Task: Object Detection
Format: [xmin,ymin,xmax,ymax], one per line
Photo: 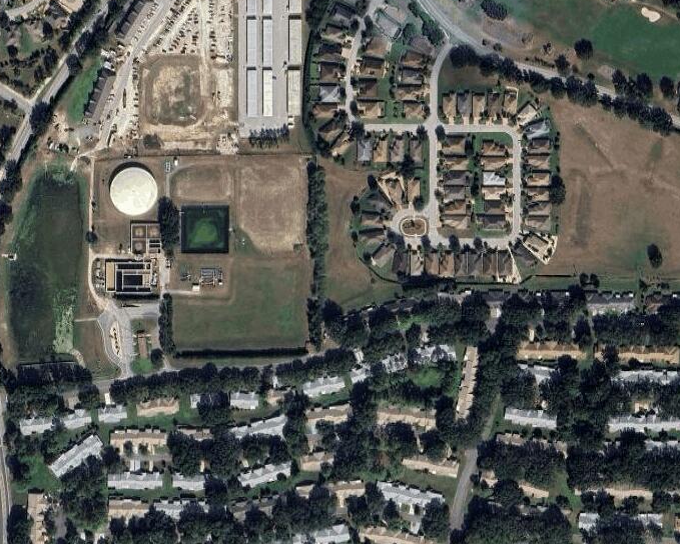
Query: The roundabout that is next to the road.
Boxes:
[395,211,432,241]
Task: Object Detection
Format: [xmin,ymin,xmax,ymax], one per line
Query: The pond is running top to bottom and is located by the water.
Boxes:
[12,176,81,360]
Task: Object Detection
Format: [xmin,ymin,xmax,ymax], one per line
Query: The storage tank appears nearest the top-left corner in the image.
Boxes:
[110,166,157,214]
